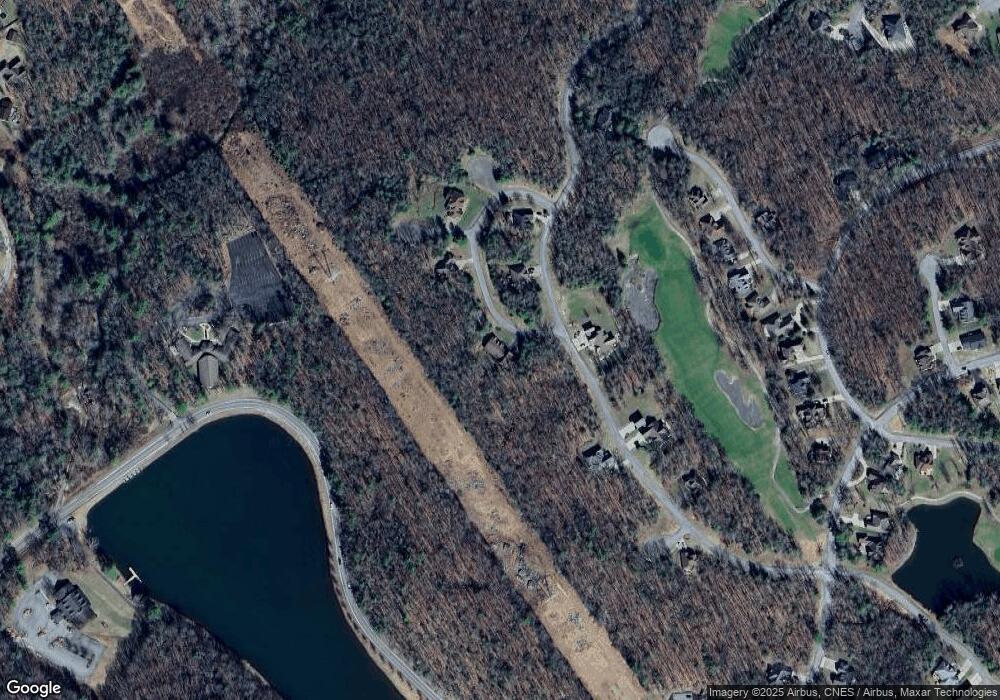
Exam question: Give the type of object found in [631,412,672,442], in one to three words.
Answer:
house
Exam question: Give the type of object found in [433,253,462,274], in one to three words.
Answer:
house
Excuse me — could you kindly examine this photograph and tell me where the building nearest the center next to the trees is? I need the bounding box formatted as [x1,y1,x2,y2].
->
[478,333,510,361]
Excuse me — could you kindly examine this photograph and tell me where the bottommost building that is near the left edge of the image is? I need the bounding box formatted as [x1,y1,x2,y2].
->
[44,579,94,626]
